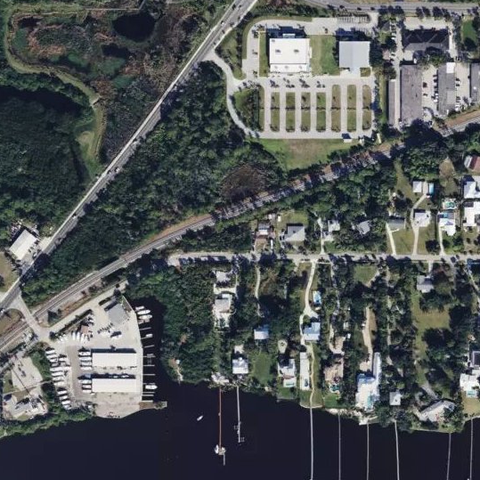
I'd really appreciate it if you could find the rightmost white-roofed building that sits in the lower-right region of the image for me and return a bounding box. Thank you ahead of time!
[460,366,480,391]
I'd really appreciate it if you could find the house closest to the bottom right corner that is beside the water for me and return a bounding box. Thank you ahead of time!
[419,401,456,429]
